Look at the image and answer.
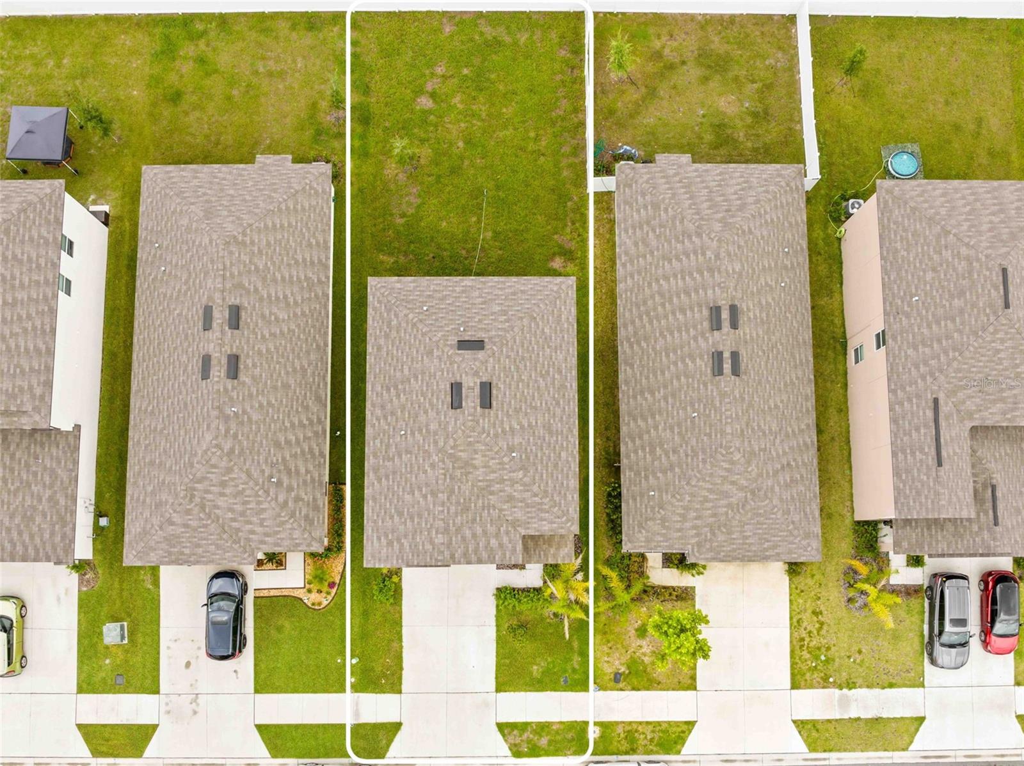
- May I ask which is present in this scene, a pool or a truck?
pool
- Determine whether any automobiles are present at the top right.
No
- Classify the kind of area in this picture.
residential area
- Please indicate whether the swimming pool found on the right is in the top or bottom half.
top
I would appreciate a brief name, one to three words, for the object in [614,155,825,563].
house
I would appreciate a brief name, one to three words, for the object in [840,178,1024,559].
house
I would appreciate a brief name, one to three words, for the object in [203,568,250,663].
car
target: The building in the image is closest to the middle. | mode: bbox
[362,275,581,567]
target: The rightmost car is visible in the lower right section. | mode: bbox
[974,568,1024,654]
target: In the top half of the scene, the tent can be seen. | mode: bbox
[6,105,86,174]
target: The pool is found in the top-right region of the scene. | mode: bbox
[889,152,919,179]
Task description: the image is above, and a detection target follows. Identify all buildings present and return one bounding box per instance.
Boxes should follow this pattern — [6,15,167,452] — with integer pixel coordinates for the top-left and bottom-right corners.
[0,178,110,563]
[120,156,335,568]
[362,275,581,567]
[840,178,1024,559]
[614,155,825,563]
